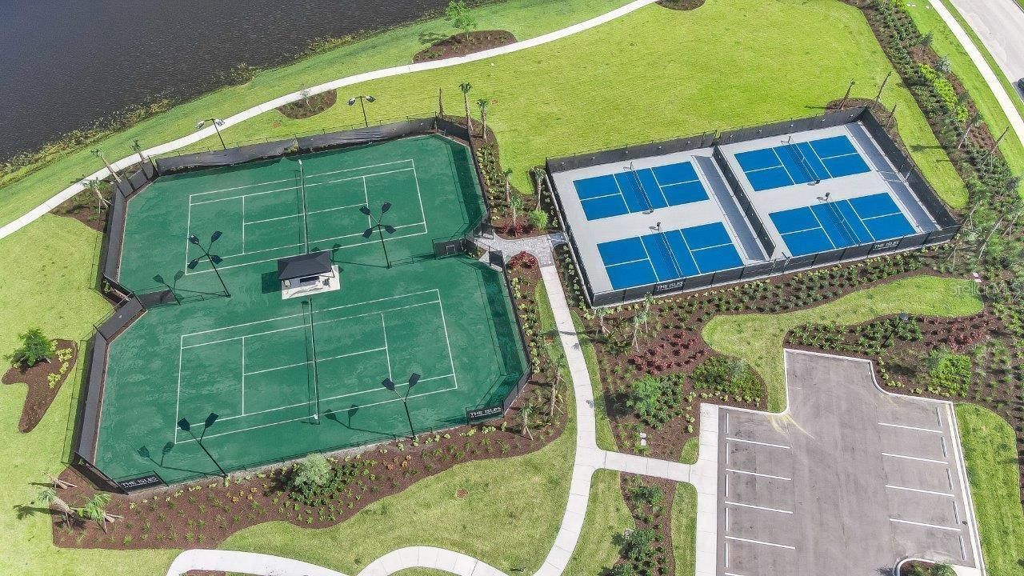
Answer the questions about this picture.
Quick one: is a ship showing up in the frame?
No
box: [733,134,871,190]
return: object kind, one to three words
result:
sports court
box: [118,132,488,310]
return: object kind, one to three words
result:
tennis court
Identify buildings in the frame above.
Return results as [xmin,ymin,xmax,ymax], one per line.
[277,250,340,299]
